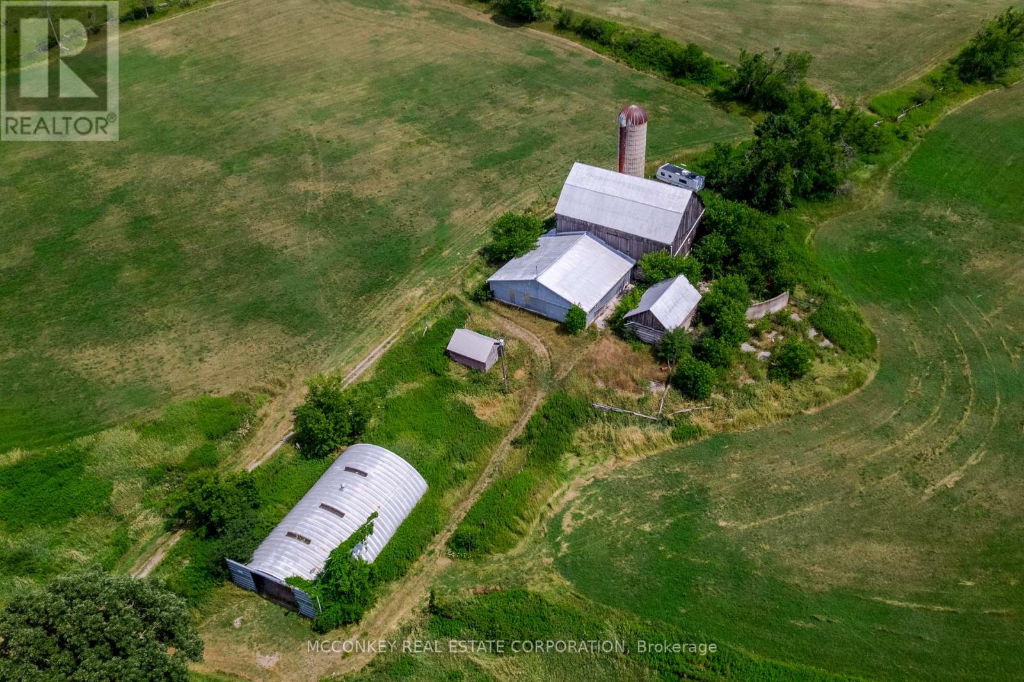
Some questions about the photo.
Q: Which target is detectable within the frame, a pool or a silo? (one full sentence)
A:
Looking from above, you can make out a silo.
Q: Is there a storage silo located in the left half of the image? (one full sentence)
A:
No, no storage silo can be made out in the left half of the image.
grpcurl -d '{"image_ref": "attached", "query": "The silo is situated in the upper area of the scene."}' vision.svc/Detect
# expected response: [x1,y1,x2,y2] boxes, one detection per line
[616,105,648,178]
